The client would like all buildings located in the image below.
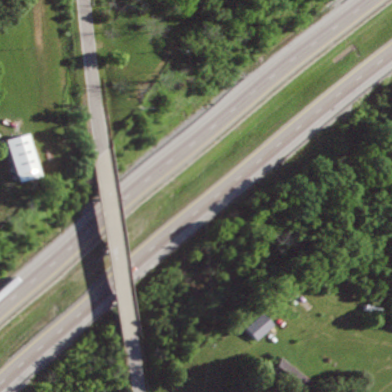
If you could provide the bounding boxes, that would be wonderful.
[248,314,274,340]
[278,358,308,383]
[8,132,43,183]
